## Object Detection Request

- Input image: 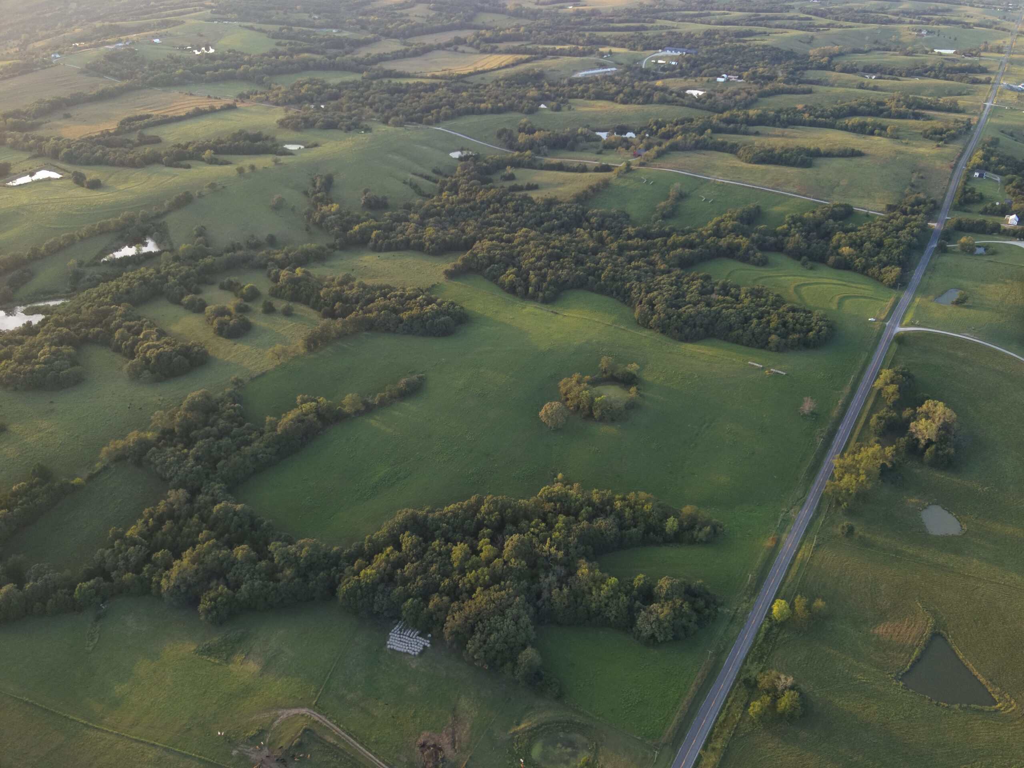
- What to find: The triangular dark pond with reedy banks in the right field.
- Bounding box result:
[902,635,995,705]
